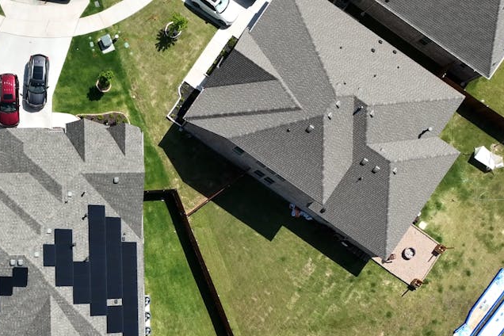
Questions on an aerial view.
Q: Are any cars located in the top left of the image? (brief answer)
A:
Yes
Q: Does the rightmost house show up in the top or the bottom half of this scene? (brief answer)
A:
top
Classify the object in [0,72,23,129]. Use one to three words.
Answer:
car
